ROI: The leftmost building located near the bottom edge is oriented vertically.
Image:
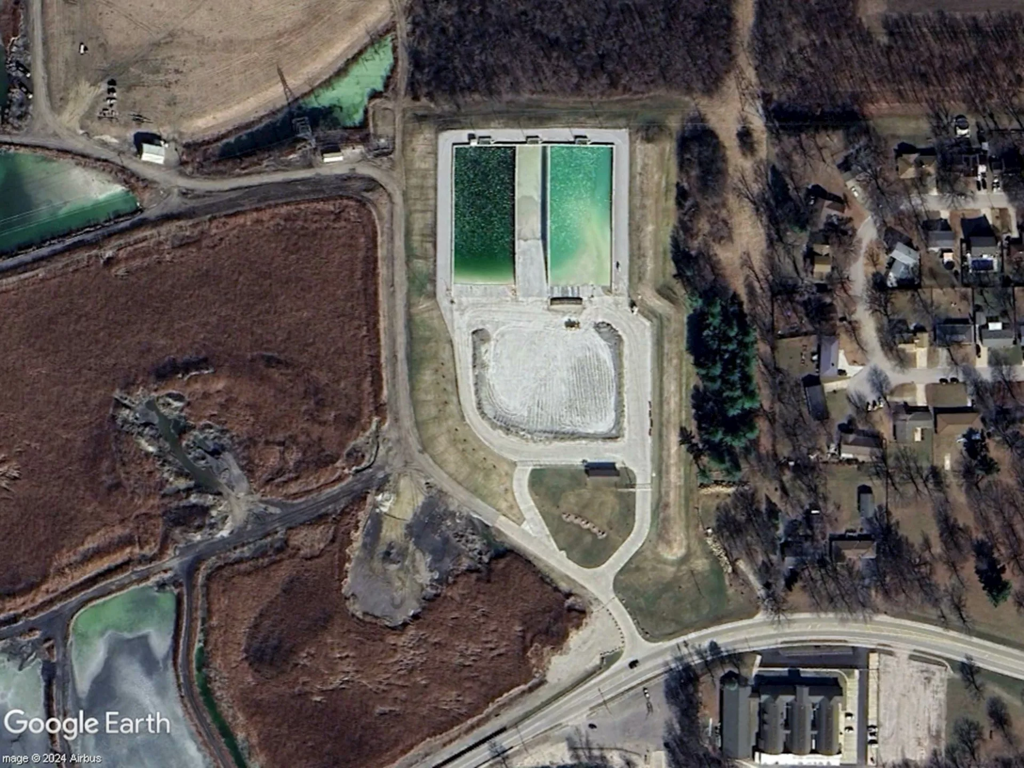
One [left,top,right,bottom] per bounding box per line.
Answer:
[722,682,758,761]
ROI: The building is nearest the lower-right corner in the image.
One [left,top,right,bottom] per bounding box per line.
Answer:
[759,679,843,755]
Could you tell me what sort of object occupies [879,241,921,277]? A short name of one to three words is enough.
house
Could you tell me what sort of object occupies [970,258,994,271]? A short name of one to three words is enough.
swimming pool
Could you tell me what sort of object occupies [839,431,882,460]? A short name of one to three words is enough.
house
